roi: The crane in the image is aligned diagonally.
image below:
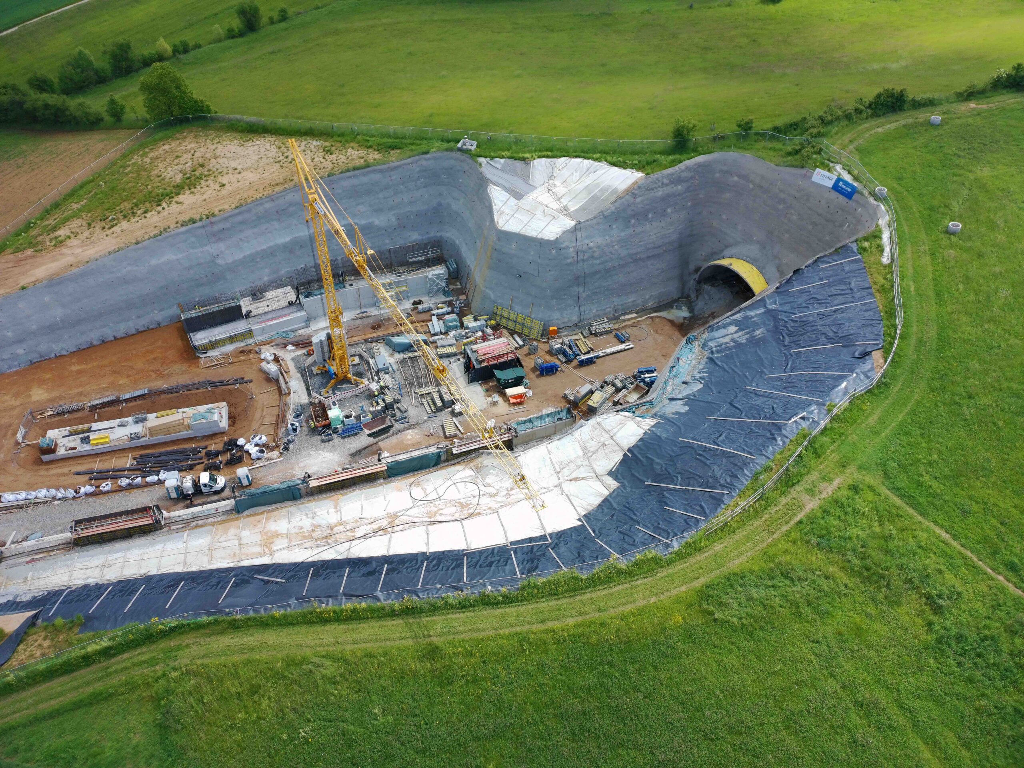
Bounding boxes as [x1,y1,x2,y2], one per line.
[289,138,548,510]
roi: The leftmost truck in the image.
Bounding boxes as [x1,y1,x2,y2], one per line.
[178,468,229,495]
